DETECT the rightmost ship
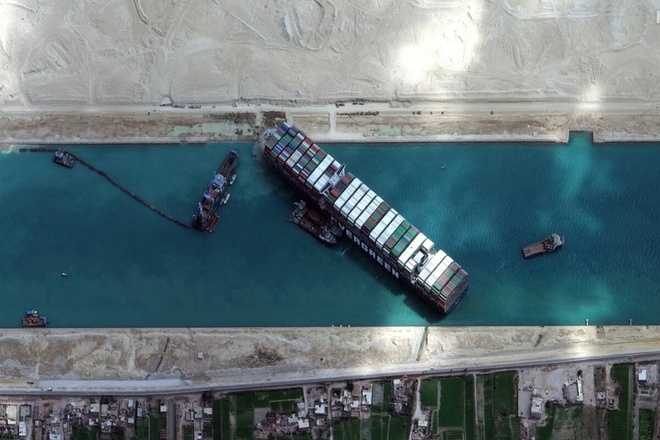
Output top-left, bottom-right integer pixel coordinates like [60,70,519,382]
[521,233,563,258]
